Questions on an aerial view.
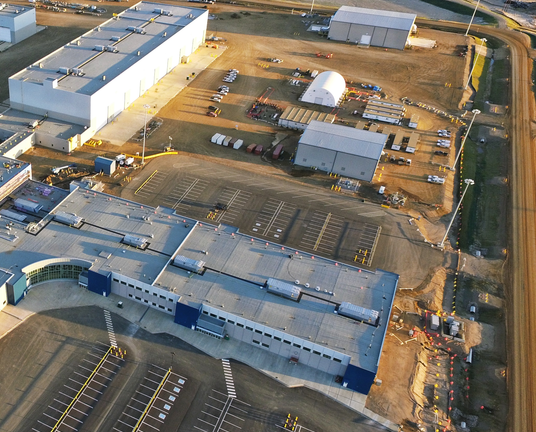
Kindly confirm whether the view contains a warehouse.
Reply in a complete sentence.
Yes, you can see a warehouse in this photo.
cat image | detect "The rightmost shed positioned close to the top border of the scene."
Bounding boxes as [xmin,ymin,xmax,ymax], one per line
[327,6,417,49]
